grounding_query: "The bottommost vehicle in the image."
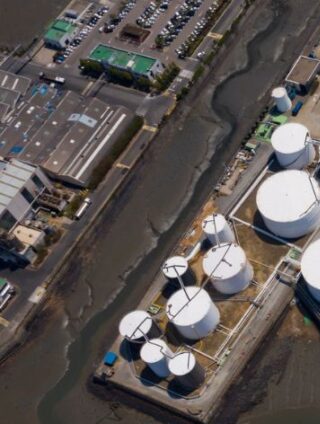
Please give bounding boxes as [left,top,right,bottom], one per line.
[75,198,92,217]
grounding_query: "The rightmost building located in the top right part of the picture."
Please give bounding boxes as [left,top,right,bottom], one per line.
[286,55,320,92]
